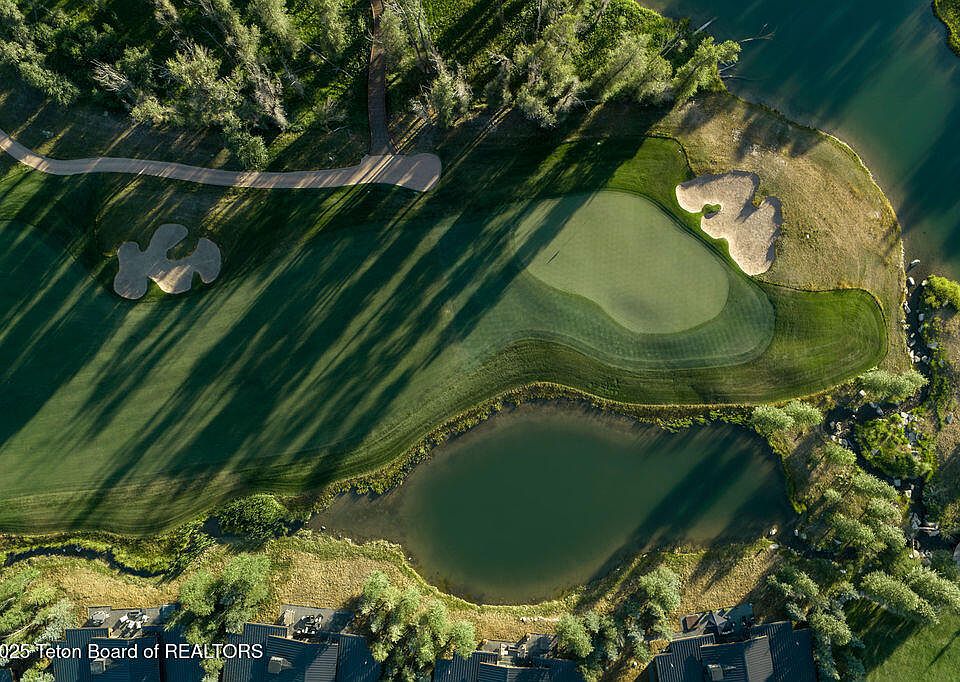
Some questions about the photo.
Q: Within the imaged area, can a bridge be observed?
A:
No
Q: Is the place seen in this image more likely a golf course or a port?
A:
golf course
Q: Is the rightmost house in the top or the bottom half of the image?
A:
bottom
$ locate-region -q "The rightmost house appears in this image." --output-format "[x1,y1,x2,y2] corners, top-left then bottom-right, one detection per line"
[654,603,815,682]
